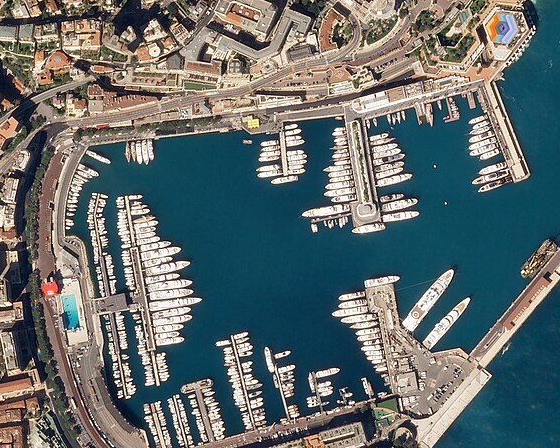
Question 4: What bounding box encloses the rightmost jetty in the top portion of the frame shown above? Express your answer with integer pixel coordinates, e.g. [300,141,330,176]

[484,82,531,181]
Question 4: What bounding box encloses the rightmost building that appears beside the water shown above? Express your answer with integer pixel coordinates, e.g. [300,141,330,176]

[486,7,532,62]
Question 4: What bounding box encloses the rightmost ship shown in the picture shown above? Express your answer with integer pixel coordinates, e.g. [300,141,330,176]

[518,237,557,280]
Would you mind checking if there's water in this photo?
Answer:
Yes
